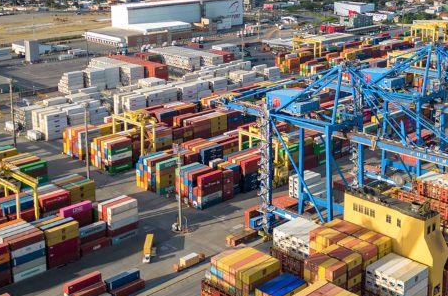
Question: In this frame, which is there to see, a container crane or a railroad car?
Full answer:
I can see a container crane in this picture.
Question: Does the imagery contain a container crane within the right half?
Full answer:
Yes, looking within the right half, one can make out a container crane.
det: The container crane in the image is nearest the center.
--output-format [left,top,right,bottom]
[226,123,284,169]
